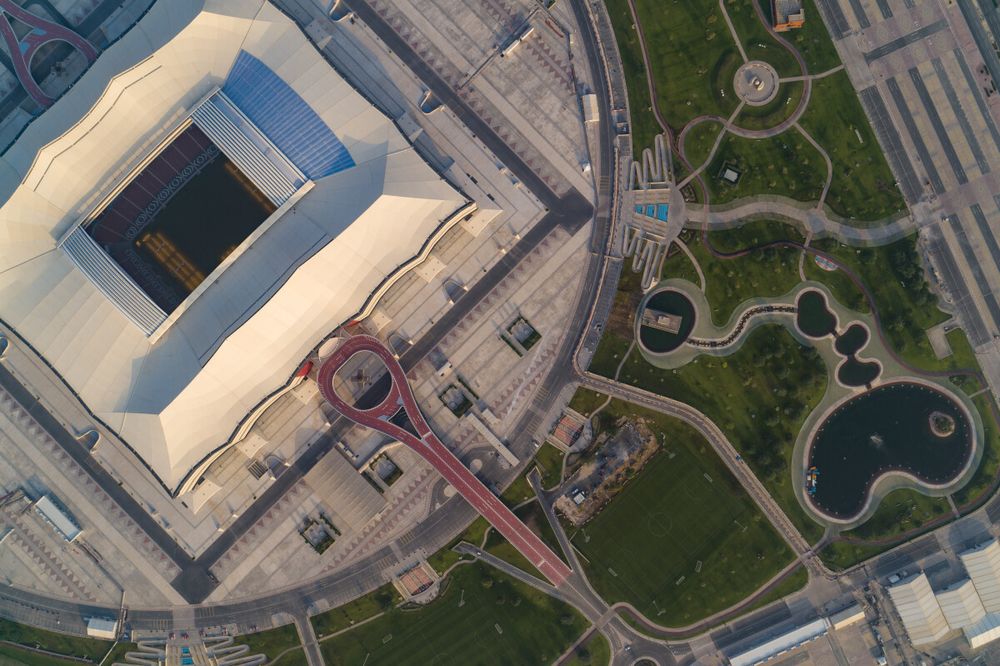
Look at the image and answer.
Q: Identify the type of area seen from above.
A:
sports ground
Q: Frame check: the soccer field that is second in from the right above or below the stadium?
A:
below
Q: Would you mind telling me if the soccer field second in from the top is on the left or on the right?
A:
right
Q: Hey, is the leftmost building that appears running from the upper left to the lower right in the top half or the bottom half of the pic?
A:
bottom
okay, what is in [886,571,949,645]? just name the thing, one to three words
tent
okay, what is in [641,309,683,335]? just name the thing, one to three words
building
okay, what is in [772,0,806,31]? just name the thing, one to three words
building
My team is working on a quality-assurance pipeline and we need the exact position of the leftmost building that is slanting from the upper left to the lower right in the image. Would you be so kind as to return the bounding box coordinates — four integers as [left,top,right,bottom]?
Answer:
[35,495,85,542]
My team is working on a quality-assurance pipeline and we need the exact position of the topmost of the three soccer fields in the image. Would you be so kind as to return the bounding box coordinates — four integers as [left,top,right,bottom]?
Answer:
[136,154,286,298]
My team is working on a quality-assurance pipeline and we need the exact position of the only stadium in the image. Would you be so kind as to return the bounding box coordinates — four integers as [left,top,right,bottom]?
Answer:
[0,0,503,513]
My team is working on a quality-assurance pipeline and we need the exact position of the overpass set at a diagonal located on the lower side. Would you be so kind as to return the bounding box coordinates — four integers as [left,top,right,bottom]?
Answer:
[317,335,571,588]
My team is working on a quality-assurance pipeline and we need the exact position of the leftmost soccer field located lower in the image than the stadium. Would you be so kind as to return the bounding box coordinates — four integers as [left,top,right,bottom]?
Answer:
[355,577,539,666]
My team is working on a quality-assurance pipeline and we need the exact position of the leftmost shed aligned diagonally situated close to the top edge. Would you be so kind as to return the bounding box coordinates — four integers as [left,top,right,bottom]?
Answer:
[501,24,534,58]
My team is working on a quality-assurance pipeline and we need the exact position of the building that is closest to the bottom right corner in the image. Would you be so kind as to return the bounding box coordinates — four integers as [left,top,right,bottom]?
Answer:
[960,610,1000,641]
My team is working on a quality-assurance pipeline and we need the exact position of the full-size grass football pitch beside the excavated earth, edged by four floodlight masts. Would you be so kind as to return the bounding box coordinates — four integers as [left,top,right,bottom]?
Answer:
[571,437,748,611]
